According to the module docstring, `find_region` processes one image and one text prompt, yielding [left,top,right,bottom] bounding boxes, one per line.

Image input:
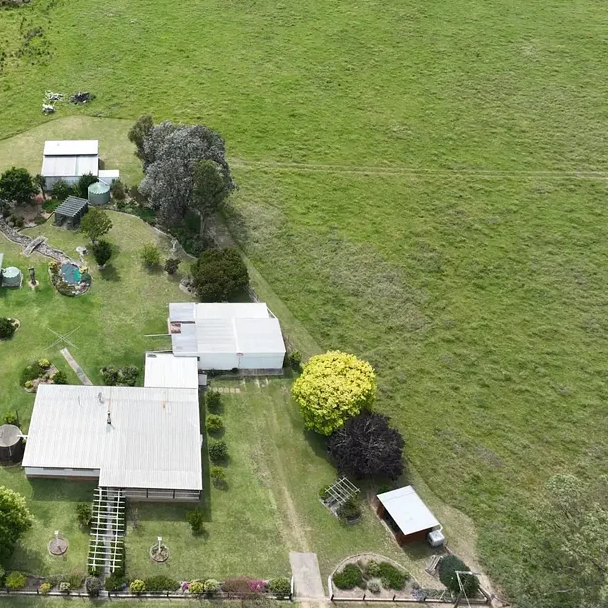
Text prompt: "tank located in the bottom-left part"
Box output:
[0,422,29,465]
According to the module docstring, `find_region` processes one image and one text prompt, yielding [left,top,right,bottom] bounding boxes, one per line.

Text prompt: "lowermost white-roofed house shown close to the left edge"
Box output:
[23,384,202,503]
